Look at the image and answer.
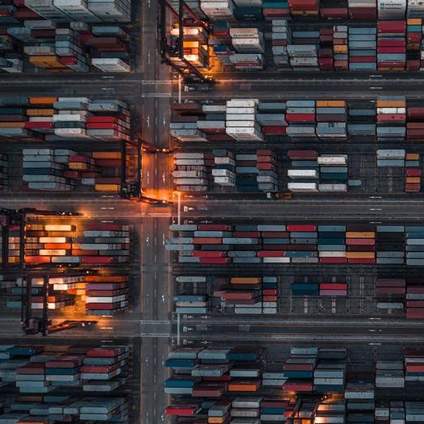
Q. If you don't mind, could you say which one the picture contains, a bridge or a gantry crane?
gantry crane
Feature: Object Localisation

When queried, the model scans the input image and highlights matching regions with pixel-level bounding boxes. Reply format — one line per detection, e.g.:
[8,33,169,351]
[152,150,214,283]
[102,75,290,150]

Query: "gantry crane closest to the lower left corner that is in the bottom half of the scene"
[26,270,98,333]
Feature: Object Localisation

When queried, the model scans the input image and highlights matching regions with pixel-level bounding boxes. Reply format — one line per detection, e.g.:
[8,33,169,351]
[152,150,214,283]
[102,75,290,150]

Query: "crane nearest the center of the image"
[113,135,175,201]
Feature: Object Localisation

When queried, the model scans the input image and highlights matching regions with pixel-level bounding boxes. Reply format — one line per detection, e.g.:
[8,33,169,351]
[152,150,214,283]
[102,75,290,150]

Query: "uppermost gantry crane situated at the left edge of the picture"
[0,205,76,271]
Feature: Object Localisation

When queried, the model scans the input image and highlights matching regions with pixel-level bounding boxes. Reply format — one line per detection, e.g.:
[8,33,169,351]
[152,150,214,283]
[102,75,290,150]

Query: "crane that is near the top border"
[159,0,215,80]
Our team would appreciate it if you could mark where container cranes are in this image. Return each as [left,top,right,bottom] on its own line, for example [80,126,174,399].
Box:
[159,0,215,80]
[113,135,175,201]
[26,270,98,333]
[0,205,76,271]
[292,393,330,424]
